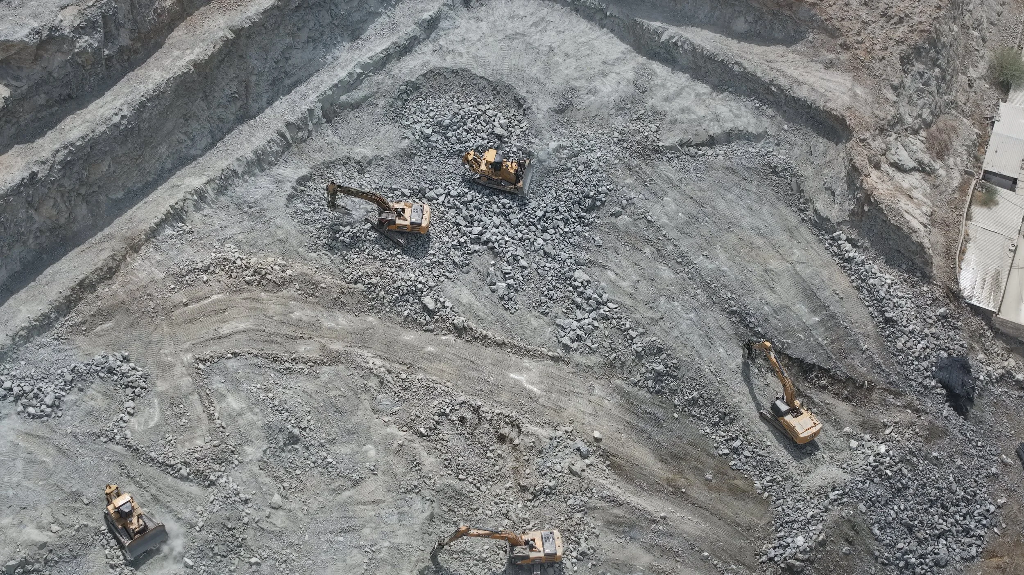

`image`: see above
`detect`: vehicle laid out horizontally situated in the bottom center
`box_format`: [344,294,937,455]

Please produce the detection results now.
[430,520,563,575]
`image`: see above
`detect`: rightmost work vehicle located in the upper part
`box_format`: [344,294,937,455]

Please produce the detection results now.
[462,147,533,198]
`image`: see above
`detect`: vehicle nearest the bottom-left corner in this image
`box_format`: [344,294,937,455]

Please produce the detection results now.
[100,486,161,567]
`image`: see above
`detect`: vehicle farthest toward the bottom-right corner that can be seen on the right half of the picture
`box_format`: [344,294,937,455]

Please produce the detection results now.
[744,338,826,444]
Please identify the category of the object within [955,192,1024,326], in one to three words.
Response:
shed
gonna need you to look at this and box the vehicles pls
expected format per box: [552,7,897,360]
[744,338,826,444]
[430,520,563,575]
[323,176,430,243]
[462,147,533,198]
[100,486,161,567]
